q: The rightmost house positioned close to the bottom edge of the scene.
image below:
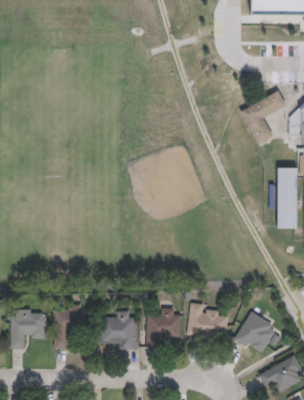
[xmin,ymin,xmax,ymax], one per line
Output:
[260,354,304,393]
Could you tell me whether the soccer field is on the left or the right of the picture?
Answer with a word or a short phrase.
left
